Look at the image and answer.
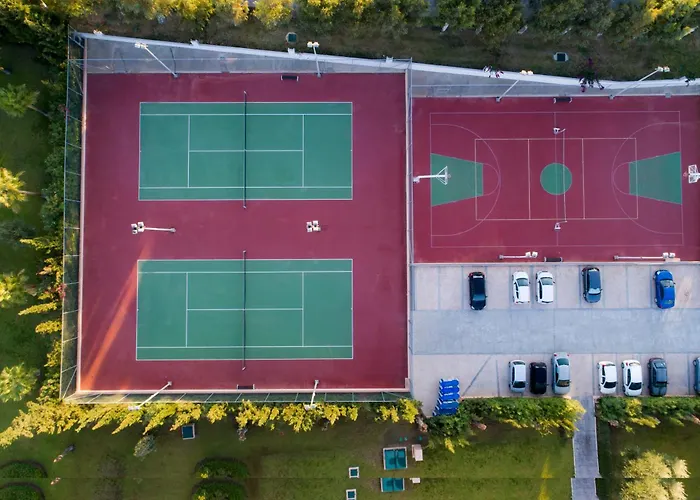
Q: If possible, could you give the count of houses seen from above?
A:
0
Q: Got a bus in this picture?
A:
No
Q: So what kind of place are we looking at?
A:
sports ground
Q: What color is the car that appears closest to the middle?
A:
black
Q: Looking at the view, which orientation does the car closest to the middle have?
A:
up and down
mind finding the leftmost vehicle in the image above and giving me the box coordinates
[468,272,487,310]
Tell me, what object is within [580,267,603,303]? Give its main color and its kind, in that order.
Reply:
blue car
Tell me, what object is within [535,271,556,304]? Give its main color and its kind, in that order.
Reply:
white car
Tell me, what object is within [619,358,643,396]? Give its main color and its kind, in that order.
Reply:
white car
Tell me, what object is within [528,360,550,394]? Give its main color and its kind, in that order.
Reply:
black car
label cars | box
[508,359,528,393]
[651,270,675,310]
[690,356,700,393]
[528,360,550,394]
[595,360,617,393]
[619,358,643,396]
[511,272,530,304]
[468,272,487,310]
[535,271,556,304]
[580,267,603,303]
[550,351,572,394]
[645,357,669,395]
